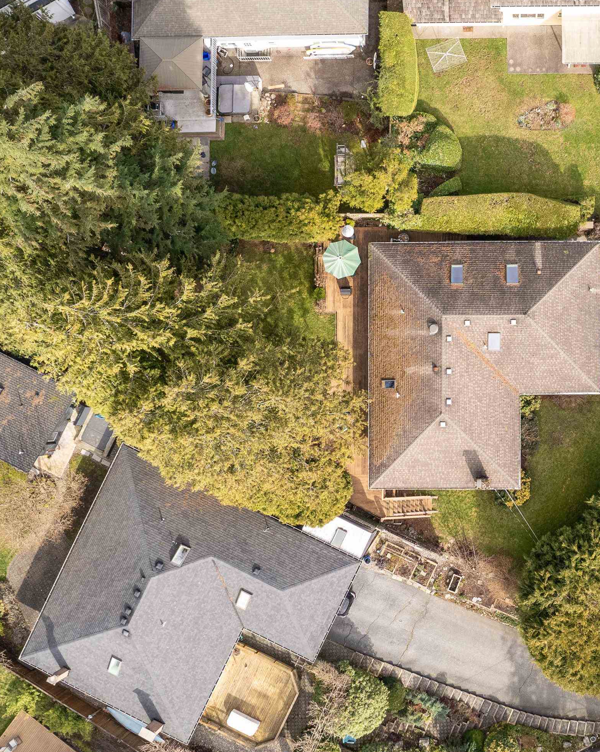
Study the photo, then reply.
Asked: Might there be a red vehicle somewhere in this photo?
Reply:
No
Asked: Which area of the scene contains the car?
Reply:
bottom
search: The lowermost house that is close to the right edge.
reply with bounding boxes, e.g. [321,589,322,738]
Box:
[368,241,600,490]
